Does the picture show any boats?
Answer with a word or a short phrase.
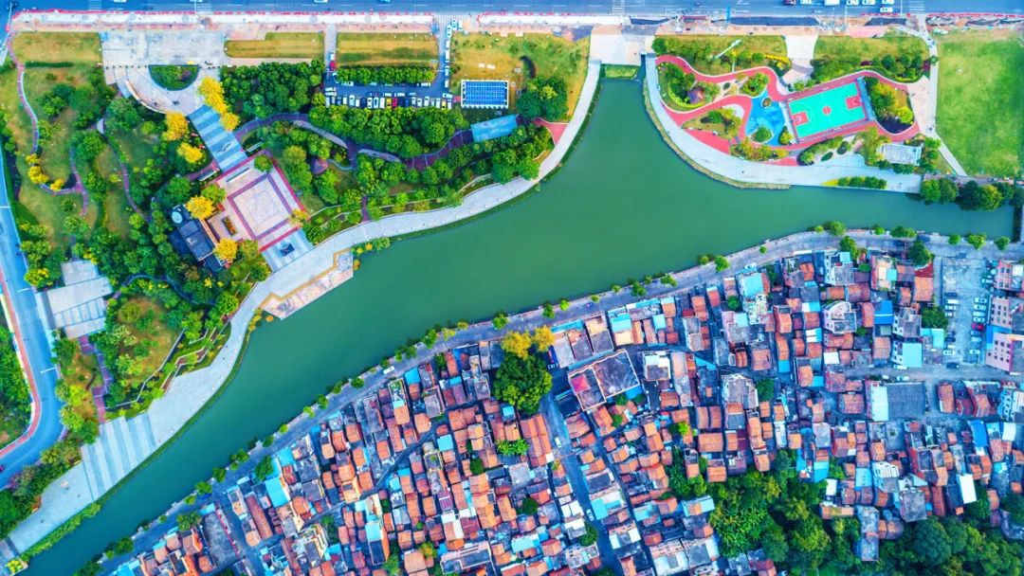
No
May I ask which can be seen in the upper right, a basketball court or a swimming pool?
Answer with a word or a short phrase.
basketball court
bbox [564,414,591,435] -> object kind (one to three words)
house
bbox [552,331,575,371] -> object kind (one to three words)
building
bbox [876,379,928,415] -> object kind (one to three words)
building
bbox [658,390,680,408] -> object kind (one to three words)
house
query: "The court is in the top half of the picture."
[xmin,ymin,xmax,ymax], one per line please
[785,80,868,141]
